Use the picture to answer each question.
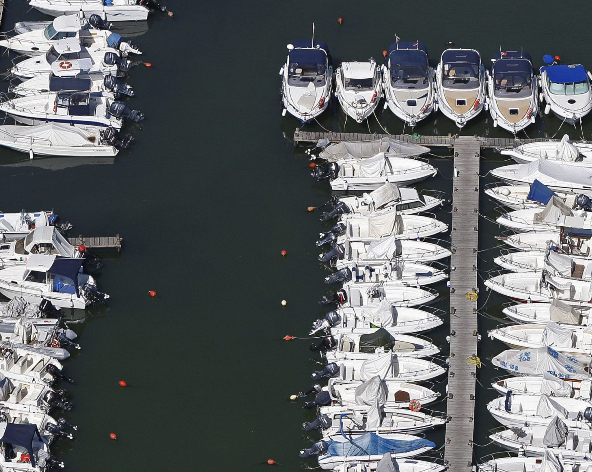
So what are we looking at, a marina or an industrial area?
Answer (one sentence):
This looks like a marina.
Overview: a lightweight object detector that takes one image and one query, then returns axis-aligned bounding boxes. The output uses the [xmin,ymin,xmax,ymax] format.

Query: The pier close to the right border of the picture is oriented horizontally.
[480,137,592,156]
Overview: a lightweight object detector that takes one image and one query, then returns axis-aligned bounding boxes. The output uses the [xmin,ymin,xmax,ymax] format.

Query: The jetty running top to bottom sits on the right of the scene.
[442,136,481,472]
